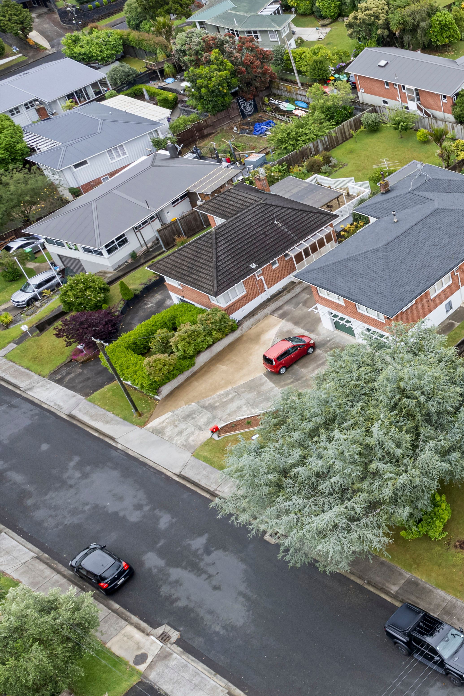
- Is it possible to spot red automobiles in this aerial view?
Yes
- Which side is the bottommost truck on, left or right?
right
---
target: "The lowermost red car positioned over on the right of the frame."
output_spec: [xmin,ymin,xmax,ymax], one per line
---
[257,336,313,373]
